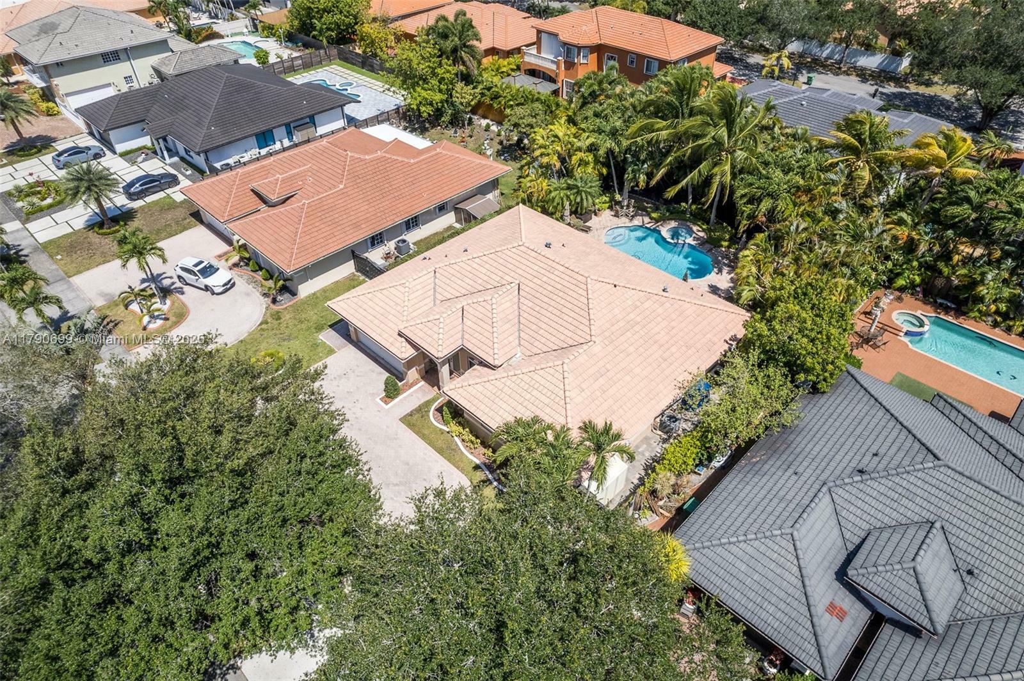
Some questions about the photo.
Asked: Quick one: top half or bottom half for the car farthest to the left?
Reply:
top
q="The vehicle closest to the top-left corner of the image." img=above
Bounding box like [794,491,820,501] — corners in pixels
[45,143,107,168]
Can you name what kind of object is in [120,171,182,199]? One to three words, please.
car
